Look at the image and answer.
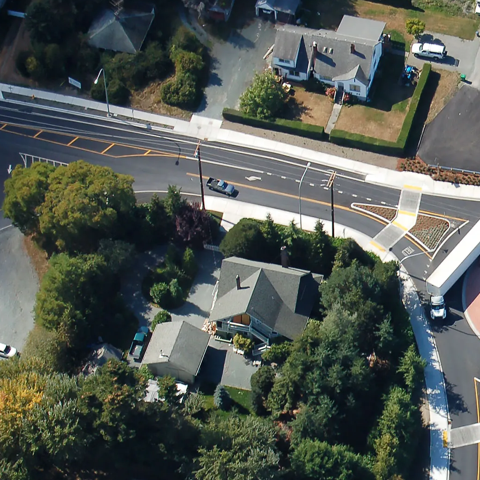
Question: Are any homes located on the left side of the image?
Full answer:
Yes, looking on the left side of the image, one can make out a home.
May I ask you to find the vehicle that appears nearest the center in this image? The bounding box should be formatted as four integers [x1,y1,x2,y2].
[203,177,237,195]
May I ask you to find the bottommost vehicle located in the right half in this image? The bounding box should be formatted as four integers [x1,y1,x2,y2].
[428,285,449,322]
